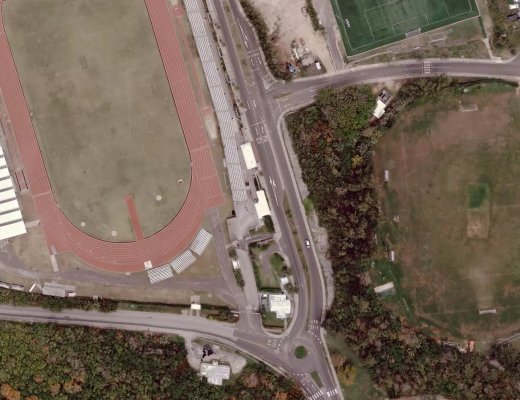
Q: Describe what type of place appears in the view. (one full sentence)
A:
What you see here is a sports ground.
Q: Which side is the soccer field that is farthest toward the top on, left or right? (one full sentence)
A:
The soccer field that is farthest toward the top sits on the right side.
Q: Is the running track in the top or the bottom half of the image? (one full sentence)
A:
It is in the top half that the running track appears.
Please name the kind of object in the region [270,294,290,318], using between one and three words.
house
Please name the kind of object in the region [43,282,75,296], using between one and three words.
shed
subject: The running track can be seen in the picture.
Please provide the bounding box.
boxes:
[0,0,226,273]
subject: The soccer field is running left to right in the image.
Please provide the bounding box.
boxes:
[329,0,481,59]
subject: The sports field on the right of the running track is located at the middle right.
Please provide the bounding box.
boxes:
[373,83,520,346]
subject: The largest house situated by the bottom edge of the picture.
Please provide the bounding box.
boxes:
[201,360,230,385]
